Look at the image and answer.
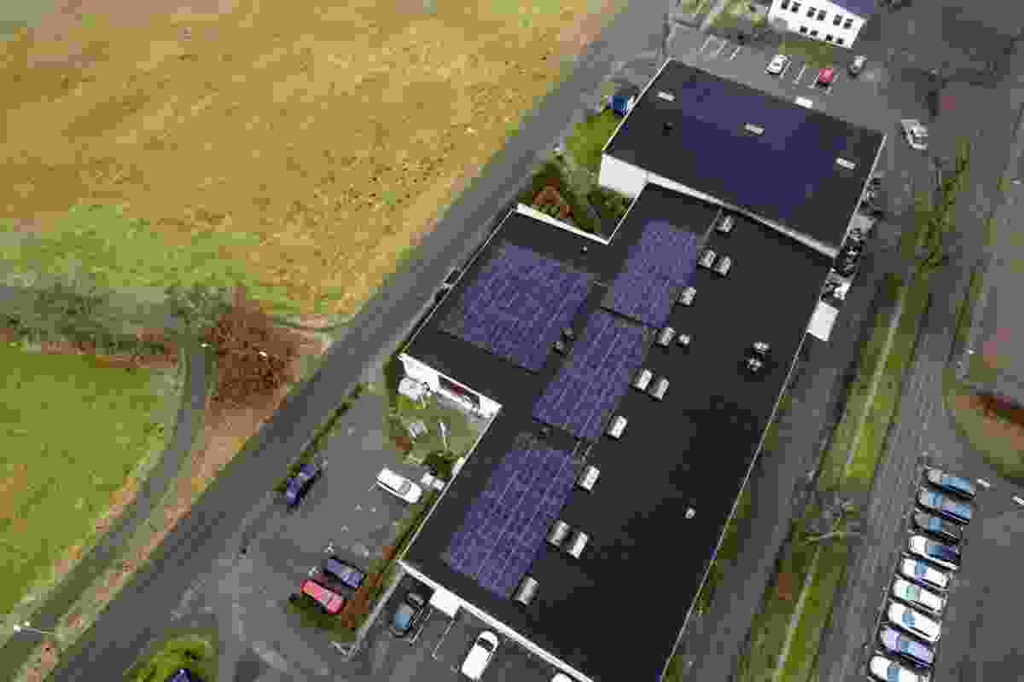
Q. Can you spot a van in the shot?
Yes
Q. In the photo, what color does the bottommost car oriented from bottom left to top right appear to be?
white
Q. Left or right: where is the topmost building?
right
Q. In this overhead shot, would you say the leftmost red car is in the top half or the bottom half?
bottom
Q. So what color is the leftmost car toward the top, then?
white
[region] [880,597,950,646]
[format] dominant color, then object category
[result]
white car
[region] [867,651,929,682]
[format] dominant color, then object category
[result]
white car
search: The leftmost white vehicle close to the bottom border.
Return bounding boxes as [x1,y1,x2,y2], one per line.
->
[456,627,501,682]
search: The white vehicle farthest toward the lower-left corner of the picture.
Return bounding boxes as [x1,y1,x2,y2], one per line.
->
[372,463,426,505]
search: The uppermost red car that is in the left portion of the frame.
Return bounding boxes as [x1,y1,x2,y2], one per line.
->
[299,575,350,617]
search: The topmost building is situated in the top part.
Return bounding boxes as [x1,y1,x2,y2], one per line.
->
[769,0,877,46]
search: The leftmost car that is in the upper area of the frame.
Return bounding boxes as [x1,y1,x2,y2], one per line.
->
[769,53,790,74]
